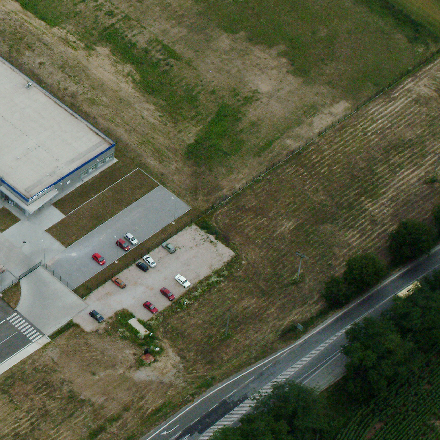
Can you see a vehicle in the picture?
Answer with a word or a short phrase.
Yes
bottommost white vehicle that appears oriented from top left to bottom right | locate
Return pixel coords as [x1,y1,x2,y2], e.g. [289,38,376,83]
[174,275,191,288]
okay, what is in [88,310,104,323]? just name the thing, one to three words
vehicle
